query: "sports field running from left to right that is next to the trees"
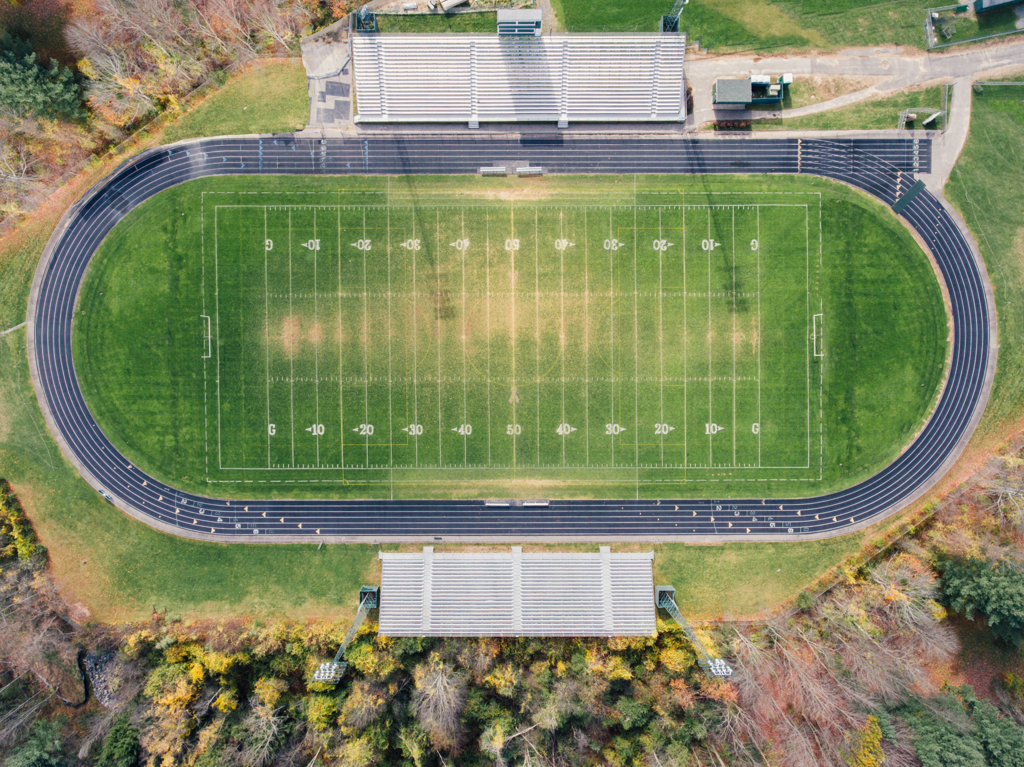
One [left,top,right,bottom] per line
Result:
[71,174,954,500]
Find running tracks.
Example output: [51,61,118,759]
[35,138,990,536]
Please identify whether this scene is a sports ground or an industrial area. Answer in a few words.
sports ground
